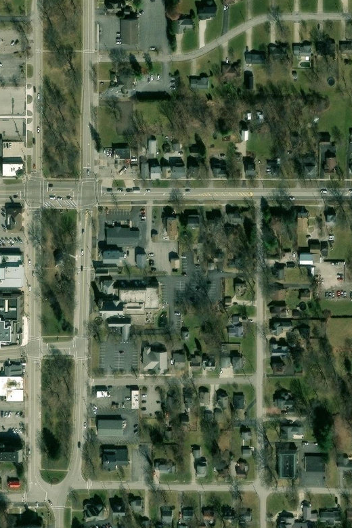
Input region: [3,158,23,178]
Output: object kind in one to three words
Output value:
building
